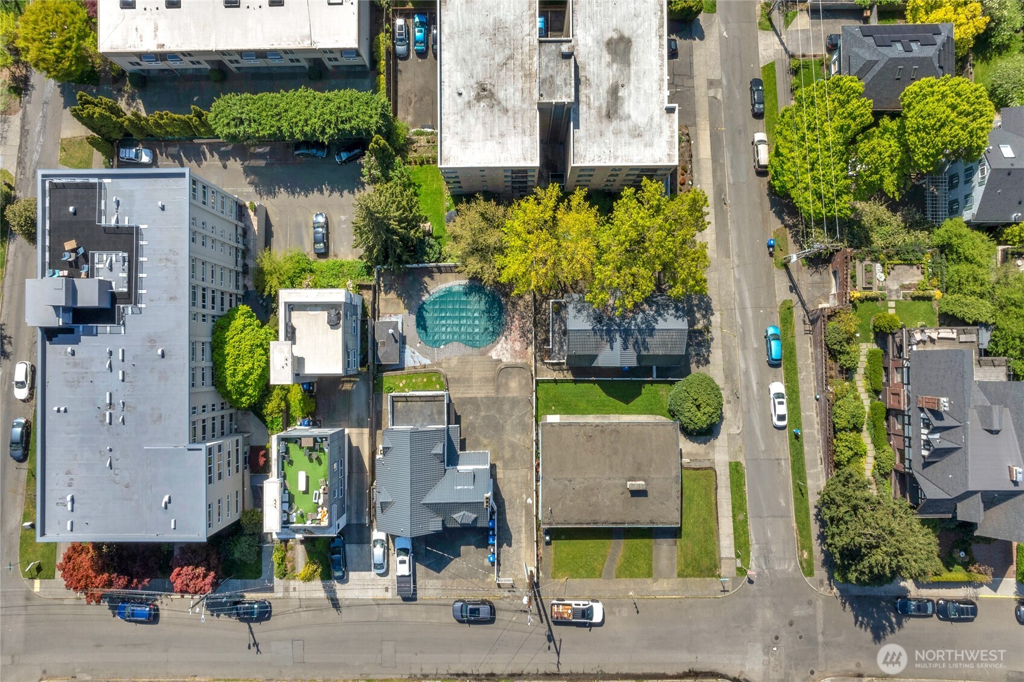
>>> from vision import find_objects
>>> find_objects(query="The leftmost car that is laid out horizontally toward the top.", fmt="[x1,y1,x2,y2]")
[114,144,160,166]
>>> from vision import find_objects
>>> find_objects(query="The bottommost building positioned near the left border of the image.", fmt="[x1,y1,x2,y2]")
[25,167,258,542]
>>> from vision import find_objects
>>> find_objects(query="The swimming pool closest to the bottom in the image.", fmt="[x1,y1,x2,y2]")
[402,275,513,365]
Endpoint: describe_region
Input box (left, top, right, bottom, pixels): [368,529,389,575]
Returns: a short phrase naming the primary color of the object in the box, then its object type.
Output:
white car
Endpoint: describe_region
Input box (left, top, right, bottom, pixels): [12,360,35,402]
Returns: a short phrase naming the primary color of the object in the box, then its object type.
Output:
white car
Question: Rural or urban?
urban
